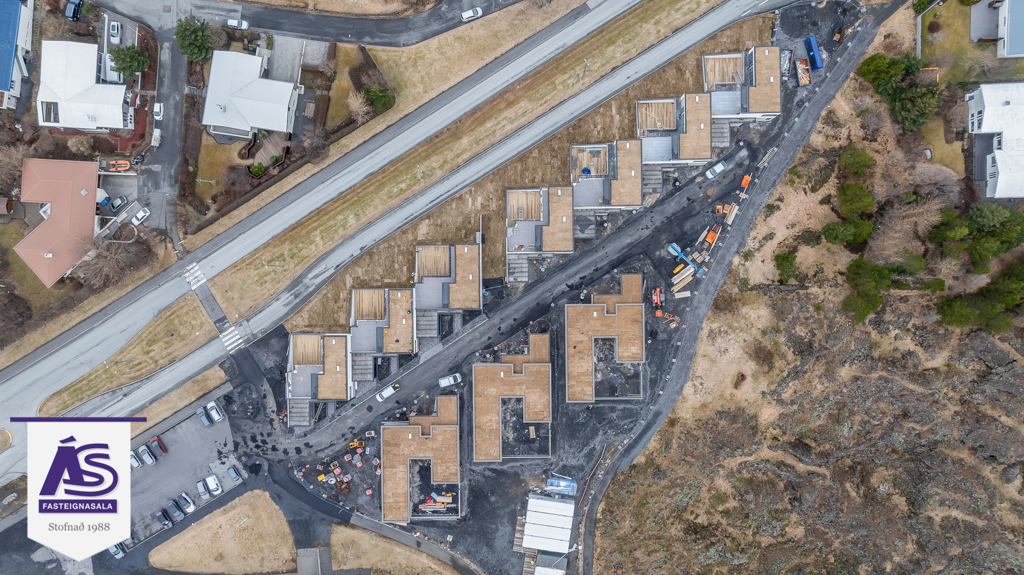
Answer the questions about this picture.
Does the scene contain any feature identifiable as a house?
Yes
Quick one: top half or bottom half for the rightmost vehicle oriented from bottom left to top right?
top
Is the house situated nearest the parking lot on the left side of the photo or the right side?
left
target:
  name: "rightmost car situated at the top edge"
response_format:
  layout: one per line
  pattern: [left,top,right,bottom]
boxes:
[459,7,482,22]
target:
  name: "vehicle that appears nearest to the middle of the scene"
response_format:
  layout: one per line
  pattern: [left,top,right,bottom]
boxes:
[437,373,463,388]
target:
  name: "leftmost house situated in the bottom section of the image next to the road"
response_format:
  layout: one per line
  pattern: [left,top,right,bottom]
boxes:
[287,334,355,442]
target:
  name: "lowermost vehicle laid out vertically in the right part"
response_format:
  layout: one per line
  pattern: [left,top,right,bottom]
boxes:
[651,289,663,317]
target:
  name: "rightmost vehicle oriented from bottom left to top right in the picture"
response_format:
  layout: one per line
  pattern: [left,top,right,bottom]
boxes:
[704,159,730,179]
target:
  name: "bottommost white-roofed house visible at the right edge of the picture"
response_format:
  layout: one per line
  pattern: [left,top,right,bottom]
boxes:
[958,84,1024,200]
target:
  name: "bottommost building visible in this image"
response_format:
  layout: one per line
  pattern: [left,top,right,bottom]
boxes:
[523,494,574,554]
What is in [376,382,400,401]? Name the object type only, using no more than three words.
vehicle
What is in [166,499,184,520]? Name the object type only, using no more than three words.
car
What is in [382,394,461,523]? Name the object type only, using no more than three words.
house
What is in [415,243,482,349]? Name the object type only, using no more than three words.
house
